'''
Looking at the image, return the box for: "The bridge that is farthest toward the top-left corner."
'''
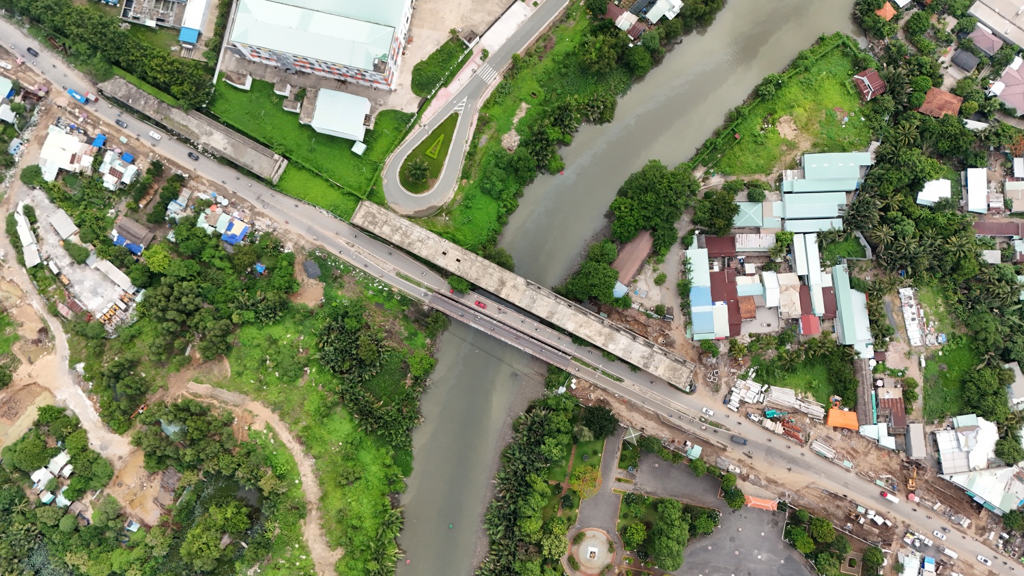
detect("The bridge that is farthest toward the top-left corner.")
[97,75,290,185]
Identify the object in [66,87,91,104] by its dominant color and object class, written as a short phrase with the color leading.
blue vehicle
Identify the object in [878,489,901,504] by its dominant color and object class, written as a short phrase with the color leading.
white vehicle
